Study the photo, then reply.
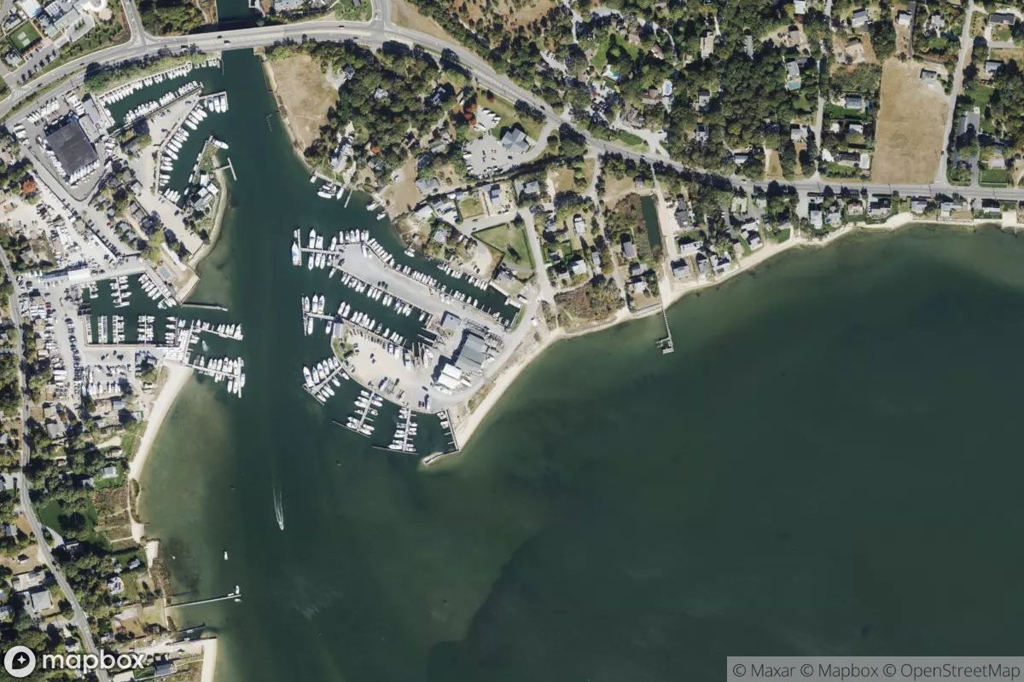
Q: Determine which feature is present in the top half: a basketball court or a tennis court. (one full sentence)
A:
It is a tennis court that can be seen in the top half.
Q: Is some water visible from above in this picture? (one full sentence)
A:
Yes, water shows up in the scene.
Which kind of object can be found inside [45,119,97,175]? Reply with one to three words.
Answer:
shed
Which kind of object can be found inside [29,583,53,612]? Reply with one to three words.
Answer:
house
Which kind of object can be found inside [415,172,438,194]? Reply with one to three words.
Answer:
house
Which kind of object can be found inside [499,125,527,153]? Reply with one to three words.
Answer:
building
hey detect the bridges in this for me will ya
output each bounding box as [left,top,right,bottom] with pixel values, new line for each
[210,26,263,50]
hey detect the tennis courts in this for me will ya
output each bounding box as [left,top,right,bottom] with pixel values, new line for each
[8,20,41,51]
